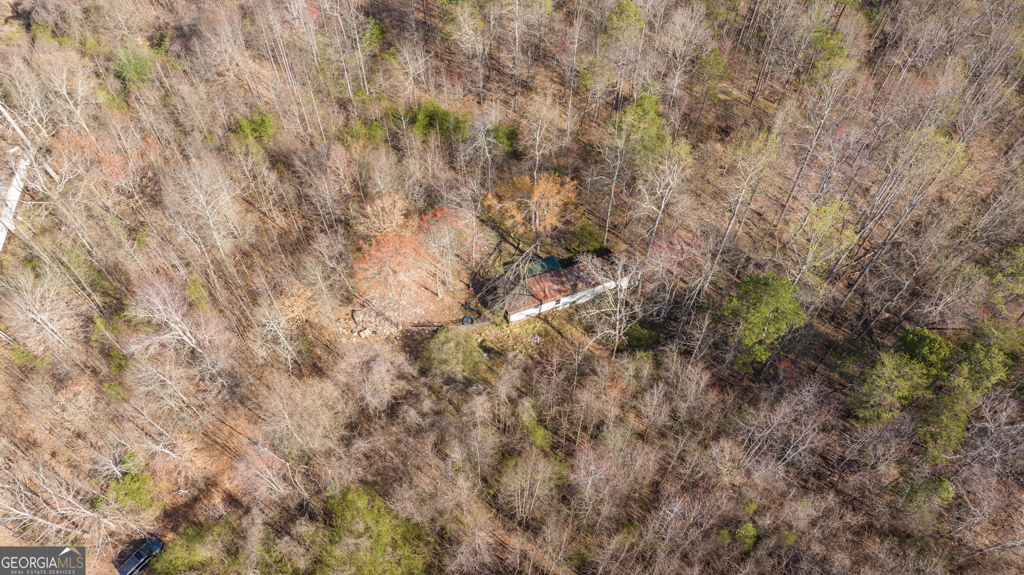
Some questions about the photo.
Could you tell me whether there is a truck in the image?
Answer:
No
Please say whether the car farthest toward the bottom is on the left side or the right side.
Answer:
left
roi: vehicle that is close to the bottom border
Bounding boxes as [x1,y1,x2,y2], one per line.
[121,539,162,575]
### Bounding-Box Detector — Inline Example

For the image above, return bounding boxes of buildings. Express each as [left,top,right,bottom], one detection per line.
[0,146,33,246]
[498,248,633,322]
